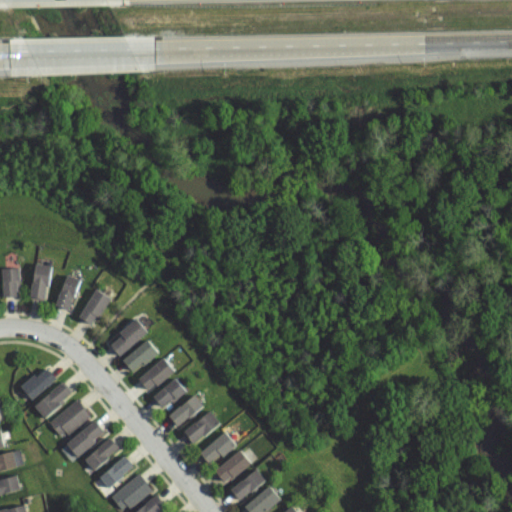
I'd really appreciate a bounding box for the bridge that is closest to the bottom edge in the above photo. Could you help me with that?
[10,36,156,76]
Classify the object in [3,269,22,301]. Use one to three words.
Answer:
house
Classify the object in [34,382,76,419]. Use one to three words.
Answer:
house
